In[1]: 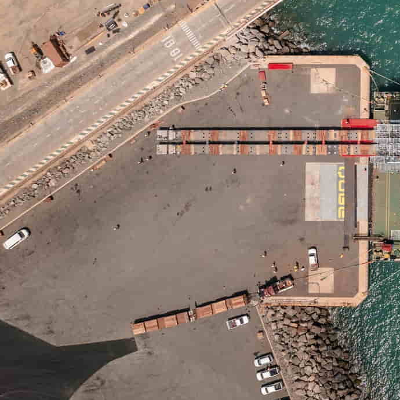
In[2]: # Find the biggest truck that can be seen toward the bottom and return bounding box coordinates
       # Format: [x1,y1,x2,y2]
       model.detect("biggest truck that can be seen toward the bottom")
[254,277,292,300]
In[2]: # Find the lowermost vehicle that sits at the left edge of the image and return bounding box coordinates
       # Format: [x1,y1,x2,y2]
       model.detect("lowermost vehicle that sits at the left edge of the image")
[1,227,27,249]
